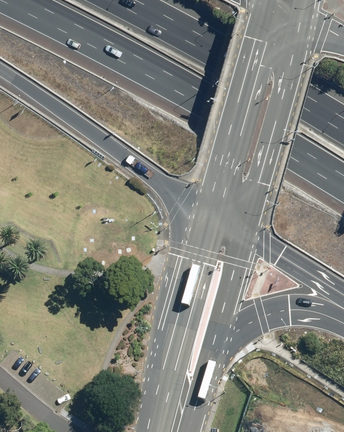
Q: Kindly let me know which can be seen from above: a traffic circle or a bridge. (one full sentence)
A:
Looking from above, you can make out a bridge.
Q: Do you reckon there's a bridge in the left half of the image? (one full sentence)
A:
No, no bridge can be made out in the left half of the image.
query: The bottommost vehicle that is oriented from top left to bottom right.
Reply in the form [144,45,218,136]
[128,157,150,175]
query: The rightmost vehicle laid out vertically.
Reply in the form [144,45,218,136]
[196,359,216,401]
